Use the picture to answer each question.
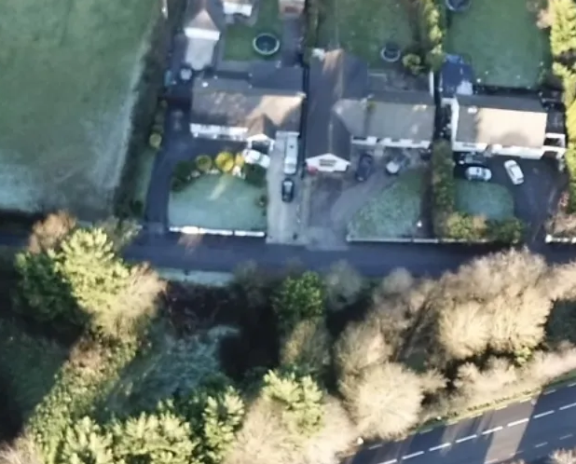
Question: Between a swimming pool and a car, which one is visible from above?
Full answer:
Of the two, only a car appears.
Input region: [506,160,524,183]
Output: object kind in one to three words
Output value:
car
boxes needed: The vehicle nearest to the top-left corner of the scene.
[243,149,269,167]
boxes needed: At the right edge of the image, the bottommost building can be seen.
[449,92,566,159]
